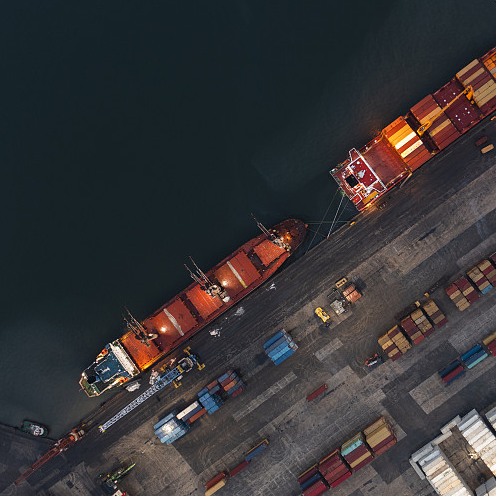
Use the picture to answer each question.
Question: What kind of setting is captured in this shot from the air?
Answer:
port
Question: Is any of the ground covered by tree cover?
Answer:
No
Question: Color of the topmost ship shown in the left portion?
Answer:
red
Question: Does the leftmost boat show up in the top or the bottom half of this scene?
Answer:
bottom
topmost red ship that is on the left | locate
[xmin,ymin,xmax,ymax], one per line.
[77,213,307,398]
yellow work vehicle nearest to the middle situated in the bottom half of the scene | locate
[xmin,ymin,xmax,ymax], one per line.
[315,304,335,329]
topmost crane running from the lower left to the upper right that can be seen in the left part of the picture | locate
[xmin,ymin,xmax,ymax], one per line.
[97,341,209,434]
